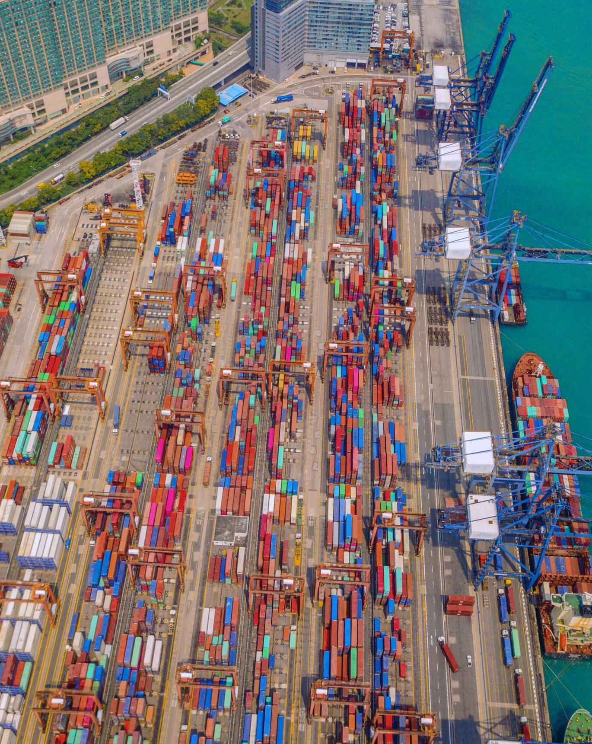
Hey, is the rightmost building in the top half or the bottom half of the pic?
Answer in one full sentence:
The rightmost building sits in the top half of the picture.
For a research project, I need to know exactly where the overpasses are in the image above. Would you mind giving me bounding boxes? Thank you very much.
[0,27,256,213]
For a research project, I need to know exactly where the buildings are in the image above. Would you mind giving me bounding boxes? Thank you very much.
[0,0,207,148]
[213,515,248,546]
[256,0,377,82]
[219,84,248,111]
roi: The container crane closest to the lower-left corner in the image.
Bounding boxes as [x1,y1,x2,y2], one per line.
[29,688,106,739]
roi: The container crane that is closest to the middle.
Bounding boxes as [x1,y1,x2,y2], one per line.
[267,356,315,404]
